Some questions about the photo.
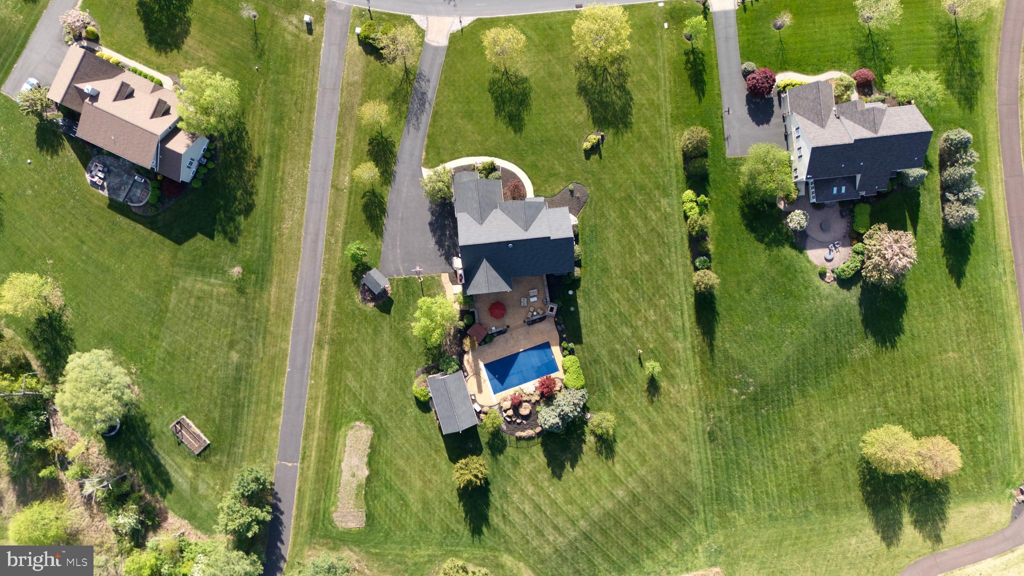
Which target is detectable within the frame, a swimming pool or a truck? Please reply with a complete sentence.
It is a swimming pool that can be seen here.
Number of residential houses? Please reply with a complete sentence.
Looking from above, you can make out 3 residential houses.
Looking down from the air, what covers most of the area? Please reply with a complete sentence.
The largest share of the image is taken up by grass.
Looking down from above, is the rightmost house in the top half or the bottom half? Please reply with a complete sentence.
The rightmost house is in the top half of the image.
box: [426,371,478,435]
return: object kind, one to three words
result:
building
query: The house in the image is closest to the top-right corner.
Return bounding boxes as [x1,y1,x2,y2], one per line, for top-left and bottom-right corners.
[778,81,933,203]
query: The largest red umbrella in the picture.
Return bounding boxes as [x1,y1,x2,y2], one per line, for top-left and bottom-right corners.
[489,302,505,319]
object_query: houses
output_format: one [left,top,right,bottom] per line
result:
[48,45,210,183]
[778,81,933,203]
[450,170,575,296]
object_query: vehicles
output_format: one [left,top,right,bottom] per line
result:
[14,76,38,102]
[452,258,461,272]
